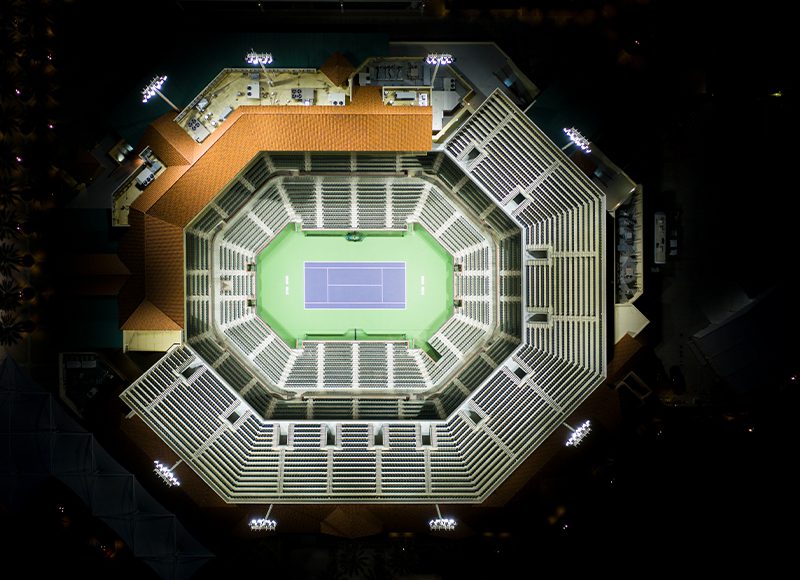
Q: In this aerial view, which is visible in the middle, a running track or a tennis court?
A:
tennis court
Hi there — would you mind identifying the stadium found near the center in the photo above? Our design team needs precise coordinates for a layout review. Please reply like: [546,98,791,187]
[116,85,607,503]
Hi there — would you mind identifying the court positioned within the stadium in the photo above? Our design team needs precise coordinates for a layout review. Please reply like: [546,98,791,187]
[255,218,455,360]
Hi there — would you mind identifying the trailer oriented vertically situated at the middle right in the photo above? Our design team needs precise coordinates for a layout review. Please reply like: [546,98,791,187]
[648,208,666,264]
